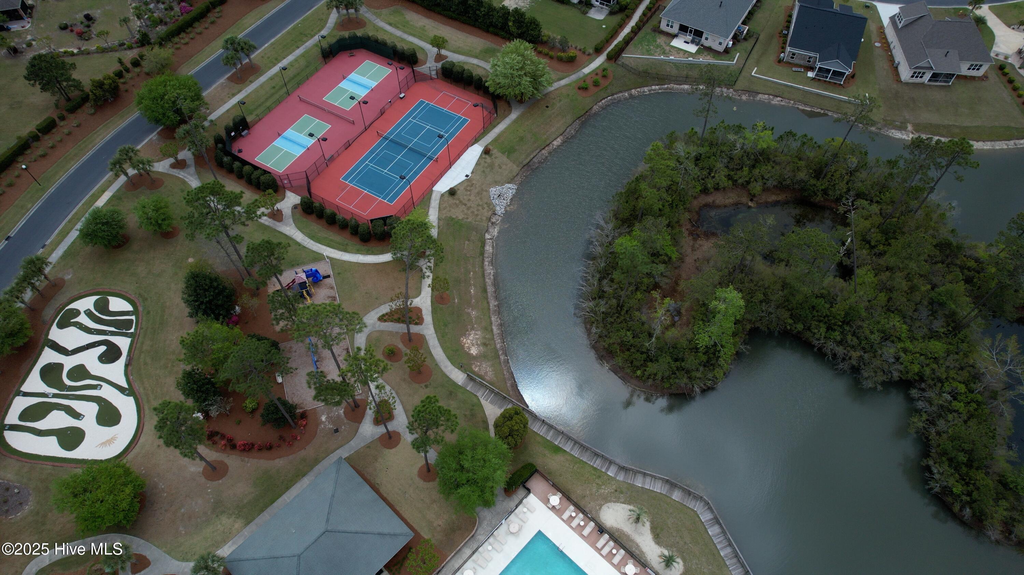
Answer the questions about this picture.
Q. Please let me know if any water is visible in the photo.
Yes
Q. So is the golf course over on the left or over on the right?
left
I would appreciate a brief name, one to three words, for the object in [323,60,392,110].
sports court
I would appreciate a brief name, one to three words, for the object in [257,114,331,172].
sports court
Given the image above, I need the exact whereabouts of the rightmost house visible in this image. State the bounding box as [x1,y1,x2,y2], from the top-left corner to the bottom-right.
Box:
[885,0,995,85]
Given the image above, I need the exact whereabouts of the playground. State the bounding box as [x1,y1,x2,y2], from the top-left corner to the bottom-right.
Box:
[274,267,330,299]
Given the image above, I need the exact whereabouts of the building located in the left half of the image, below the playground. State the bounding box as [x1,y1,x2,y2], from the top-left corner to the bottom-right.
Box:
[227,456,415,575]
